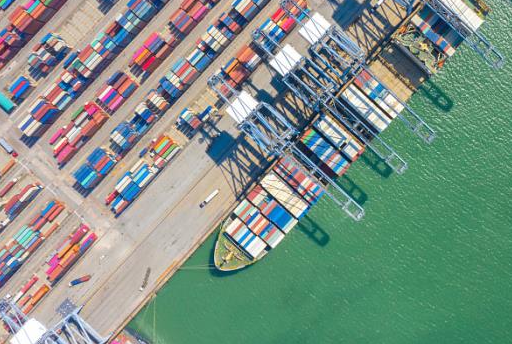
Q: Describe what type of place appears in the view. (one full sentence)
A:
This looks like a port.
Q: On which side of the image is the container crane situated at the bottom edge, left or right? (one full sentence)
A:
The container crane situated at the bottom edge is on the left side of the image.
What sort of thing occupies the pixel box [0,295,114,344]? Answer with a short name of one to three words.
container crane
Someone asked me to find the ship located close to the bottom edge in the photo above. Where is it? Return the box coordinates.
[109,326,152,344]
